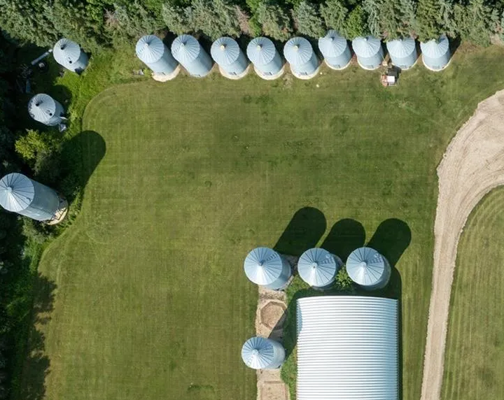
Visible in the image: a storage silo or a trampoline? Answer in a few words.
storage silo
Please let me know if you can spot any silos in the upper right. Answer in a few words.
Yes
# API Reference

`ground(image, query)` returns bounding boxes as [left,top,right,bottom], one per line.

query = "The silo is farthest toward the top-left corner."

[54,37,92,73]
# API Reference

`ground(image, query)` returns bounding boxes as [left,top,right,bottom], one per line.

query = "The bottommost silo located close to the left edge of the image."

[0,173,71,225]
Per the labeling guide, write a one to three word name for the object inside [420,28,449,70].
silo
